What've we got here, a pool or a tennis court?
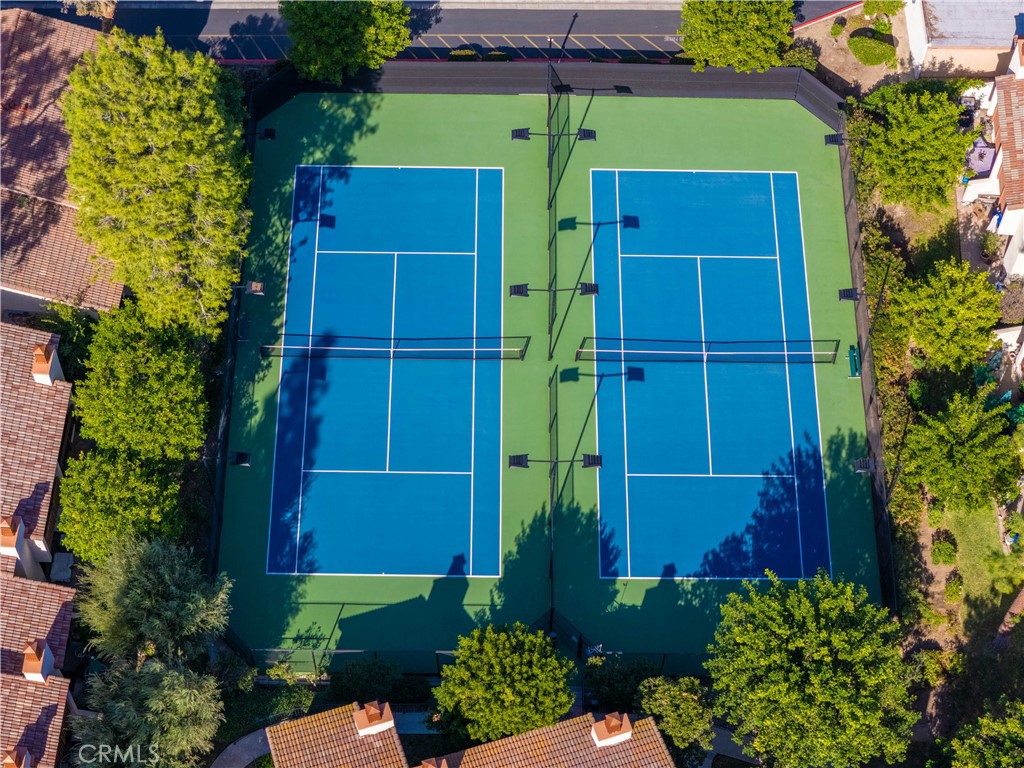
tennis court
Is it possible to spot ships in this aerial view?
No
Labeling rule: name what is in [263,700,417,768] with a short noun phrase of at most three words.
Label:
house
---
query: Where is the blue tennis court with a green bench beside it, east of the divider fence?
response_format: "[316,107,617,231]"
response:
[547,95,884,676]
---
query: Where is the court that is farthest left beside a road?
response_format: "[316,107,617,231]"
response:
[217,93,551,673]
